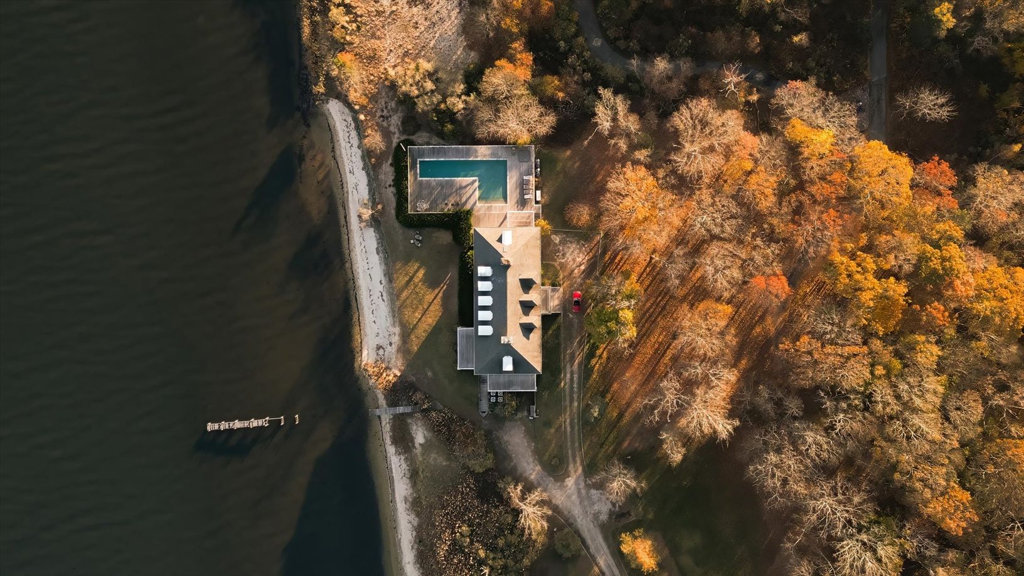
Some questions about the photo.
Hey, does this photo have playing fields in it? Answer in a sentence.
No, the scene contains no playing field.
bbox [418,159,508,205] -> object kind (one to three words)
swimming pool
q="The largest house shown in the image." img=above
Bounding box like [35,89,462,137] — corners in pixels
[457,226,562,392]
